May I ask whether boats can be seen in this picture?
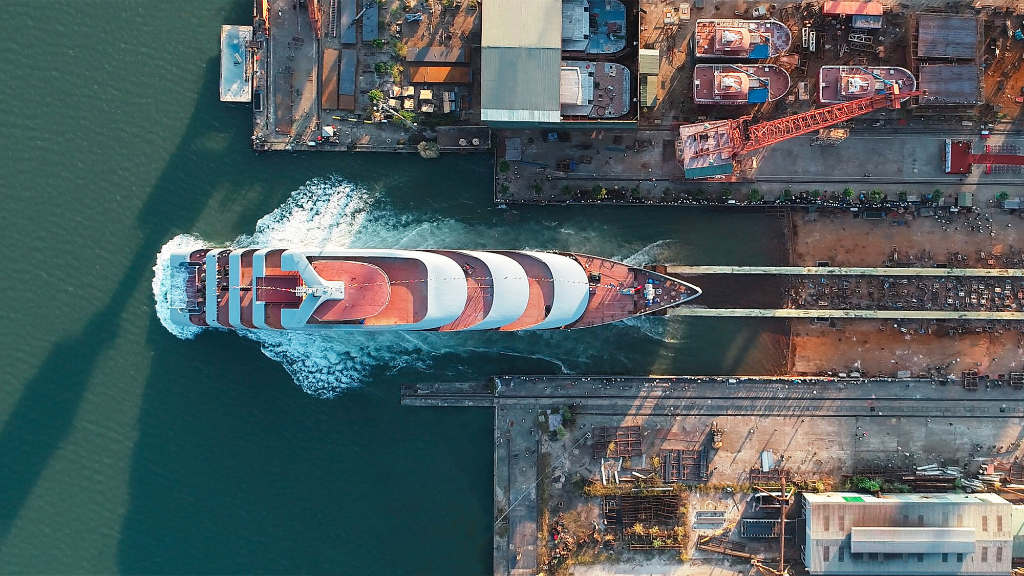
Yes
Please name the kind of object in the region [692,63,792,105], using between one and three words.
boat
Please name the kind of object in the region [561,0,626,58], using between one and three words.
boat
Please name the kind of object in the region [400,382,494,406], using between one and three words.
pier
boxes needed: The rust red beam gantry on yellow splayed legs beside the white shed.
[751,475,795,576]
